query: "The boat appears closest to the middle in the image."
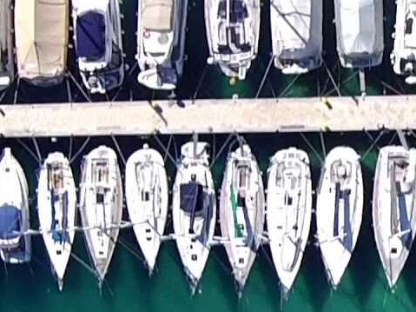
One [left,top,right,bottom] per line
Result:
[180,142,212,159]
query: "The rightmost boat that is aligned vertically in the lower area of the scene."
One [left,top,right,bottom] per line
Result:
[370,129,416,290]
